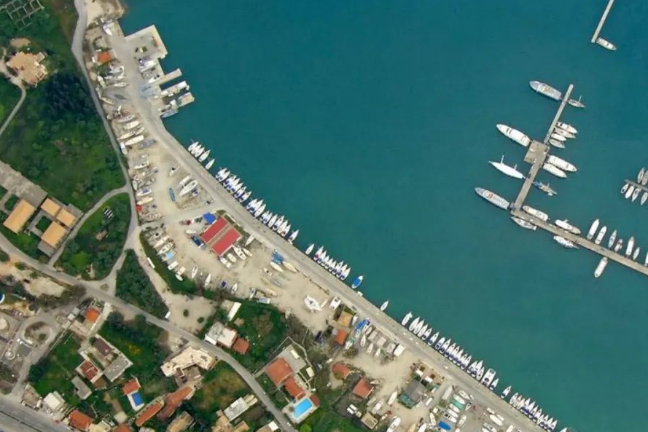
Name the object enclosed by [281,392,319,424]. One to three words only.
swimming pool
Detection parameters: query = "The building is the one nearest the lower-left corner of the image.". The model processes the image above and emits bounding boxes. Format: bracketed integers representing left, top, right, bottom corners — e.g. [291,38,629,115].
[19,387,43,409]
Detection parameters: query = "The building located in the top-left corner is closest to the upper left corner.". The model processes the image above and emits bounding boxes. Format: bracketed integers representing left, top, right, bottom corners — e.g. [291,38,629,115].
[9,51,50,83]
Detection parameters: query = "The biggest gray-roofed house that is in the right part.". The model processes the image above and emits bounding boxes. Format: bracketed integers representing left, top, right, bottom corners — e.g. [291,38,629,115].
[403,377,427,401]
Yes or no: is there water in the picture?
Yes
